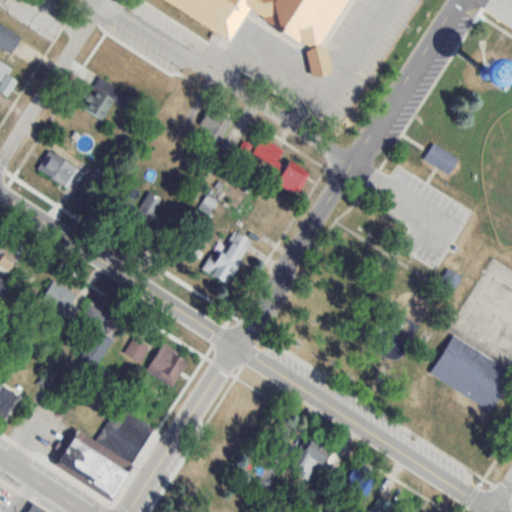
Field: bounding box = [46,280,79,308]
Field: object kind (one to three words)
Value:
house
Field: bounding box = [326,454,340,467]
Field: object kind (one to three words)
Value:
gazebo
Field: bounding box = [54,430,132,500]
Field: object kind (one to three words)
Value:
building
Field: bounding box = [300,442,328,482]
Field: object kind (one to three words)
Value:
house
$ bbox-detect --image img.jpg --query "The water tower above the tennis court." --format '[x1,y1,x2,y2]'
[478,58,512,86]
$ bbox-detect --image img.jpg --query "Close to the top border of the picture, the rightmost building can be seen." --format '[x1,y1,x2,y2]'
[166,0,352,76]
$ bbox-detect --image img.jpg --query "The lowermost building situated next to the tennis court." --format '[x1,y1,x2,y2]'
[430,334,506,406]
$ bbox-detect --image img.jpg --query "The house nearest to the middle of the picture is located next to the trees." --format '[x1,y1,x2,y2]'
[201,231,250,282]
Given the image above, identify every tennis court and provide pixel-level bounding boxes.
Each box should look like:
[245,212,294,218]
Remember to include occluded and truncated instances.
[450,259,512,366]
